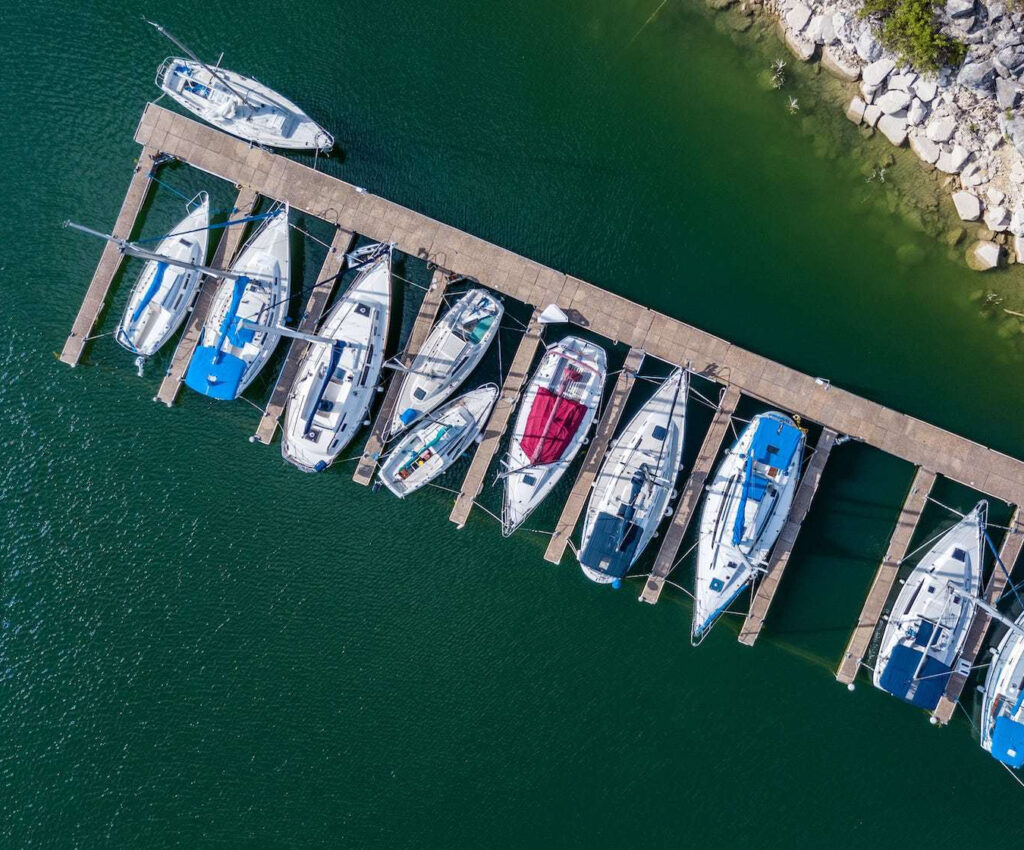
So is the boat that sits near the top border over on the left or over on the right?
left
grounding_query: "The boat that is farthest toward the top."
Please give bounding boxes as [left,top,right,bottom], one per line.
[131,8,330,149]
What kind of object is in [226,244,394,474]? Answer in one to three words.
boat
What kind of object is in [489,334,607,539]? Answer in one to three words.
boat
